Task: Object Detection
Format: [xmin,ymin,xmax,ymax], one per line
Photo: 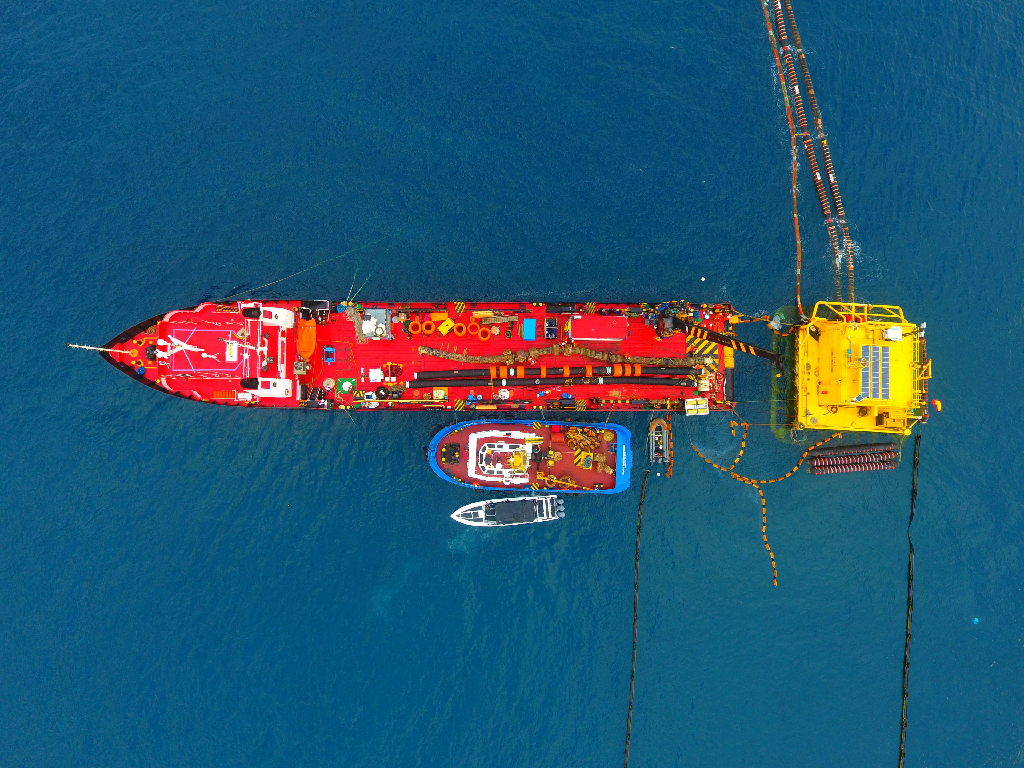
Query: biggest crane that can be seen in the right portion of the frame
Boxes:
[653,299,784,379]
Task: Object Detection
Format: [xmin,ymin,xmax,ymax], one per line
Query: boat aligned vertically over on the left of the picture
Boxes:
[298,319,316,358]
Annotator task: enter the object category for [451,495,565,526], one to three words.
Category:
boat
